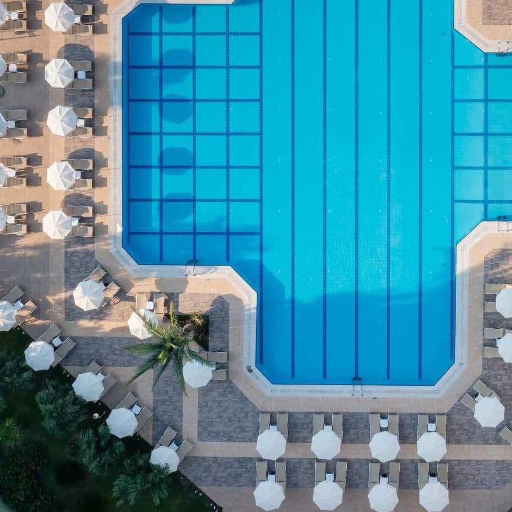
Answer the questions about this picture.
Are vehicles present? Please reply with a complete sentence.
No, there's no vehicle here.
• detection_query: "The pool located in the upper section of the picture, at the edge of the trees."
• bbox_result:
[122,0,512,386]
